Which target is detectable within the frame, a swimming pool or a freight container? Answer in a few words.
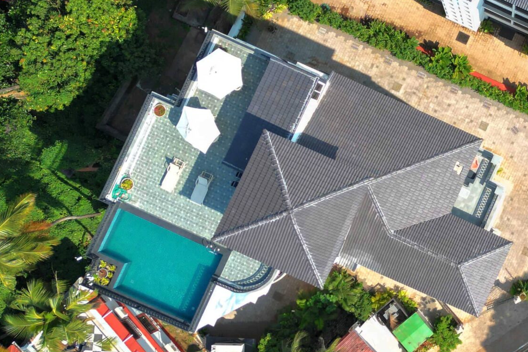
swimming pool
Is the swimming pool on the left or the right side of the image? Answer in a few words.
left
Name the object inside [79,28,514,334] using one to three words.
house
